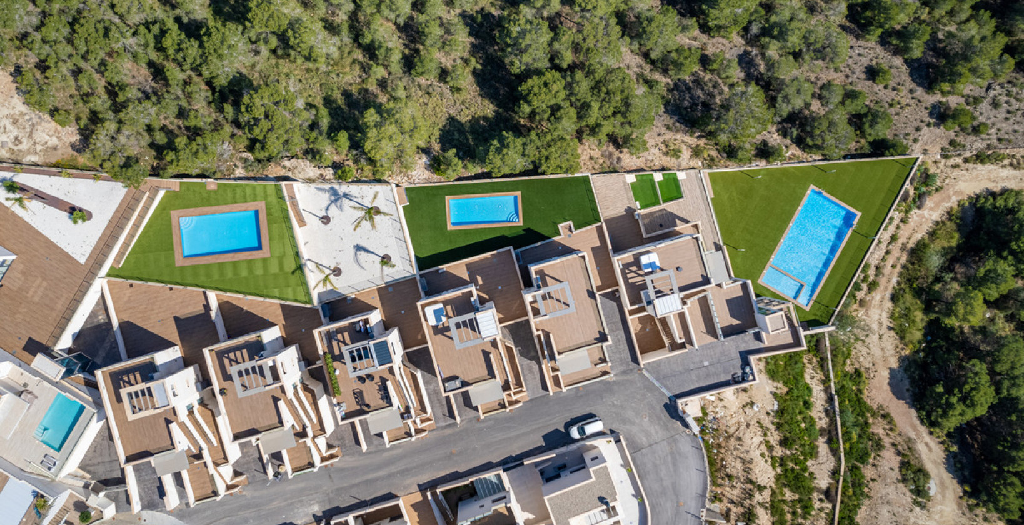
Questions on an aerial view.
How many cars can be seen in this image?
1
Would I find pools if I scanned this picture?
Yes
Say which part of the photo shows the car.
bottom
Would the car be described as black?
No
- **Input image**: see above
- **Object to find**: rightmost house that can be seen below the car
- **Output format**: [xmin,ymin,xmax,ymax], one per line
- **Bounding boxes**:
[522,447,620,525]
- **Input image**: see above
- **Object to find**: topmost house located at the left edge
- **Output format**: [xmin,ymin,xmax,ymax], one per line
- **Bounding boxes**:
[0,244,28,289]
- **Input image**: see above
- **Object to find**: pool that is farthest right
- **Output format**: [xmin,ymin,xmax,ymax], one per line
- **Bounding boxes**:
[758,185,865,311]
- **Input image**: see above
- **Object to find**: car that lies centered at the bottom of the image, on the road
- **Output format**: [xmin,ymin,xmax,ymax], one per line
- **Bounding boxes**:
[568,418,605,440]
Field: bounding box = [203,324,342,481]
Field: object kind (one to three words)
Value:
house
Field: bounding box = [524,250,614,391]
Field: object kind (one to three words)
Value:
house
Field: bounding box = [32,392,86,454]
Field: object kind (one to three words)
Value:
swimming pool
